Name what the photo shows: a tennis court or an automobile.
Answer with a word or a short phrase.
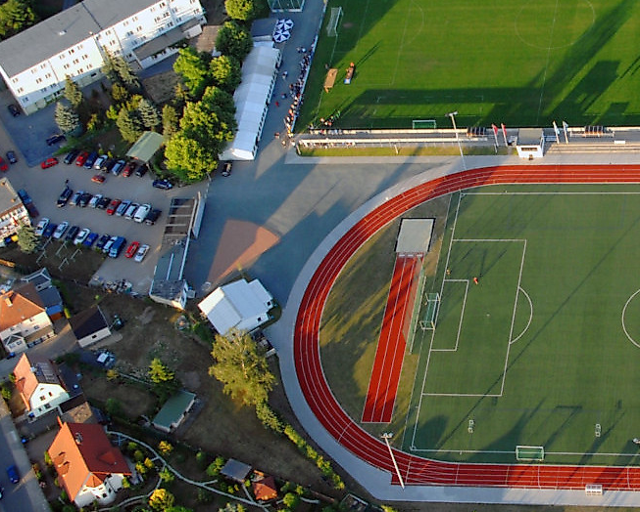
automobile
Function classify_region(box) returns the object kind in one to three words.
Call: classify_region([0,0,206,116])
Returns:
building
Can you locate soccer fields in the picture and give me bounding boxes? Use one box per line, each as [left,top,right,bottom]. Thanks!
[399,183,640,466]
[295,0,640,136]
